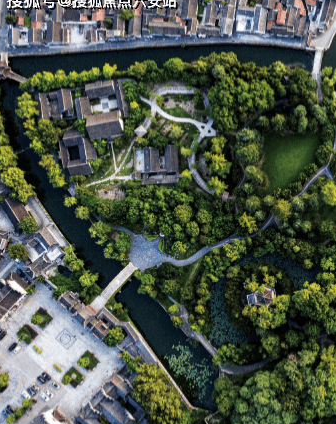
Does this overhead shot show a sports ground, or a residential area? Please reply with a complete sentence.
It's a residential area.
